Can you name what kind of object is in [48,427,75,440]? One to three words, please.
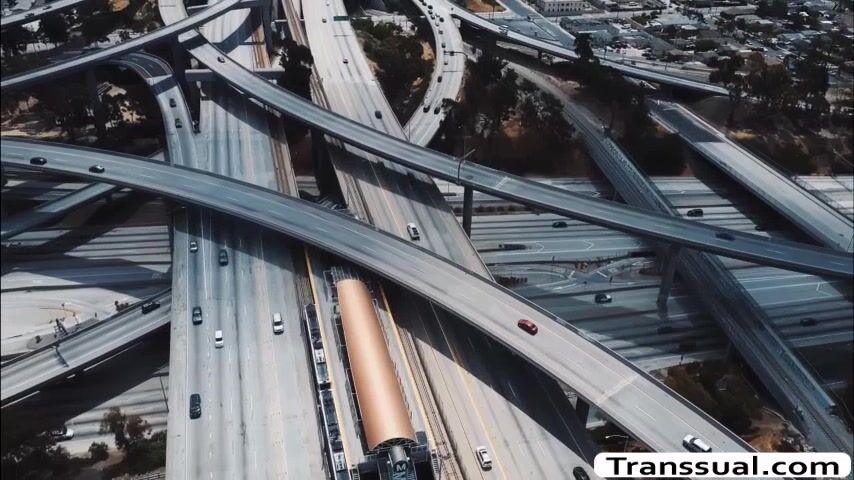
vehicle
